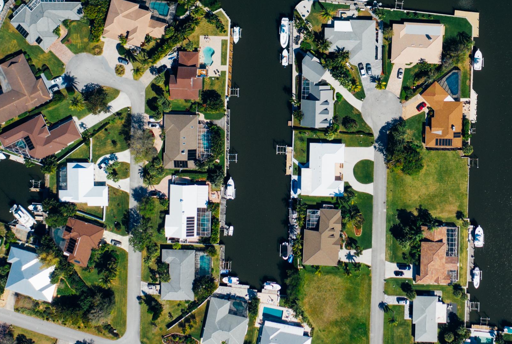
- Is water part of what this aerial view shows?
Yes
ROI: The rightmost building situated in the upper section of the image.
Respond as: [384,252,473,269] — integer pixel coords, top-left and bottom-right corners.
[420,82,463,148]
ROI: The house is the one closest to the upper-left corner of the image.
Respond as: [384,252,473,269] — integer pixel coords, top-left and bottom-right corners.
[10,2,85,51]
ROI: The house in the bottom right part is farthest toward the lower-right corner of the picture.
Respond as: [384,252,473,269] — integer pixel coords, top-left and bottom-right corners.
[413,295,446,344]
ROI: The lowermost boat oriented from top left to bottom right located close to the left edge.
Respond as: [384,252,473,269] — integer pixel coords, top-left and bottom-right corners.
[13,203,38,225]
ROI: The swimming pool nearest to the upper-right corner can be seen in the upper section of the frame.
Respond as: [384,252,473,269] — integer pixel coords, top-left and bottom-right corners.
[446,72,459,96]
